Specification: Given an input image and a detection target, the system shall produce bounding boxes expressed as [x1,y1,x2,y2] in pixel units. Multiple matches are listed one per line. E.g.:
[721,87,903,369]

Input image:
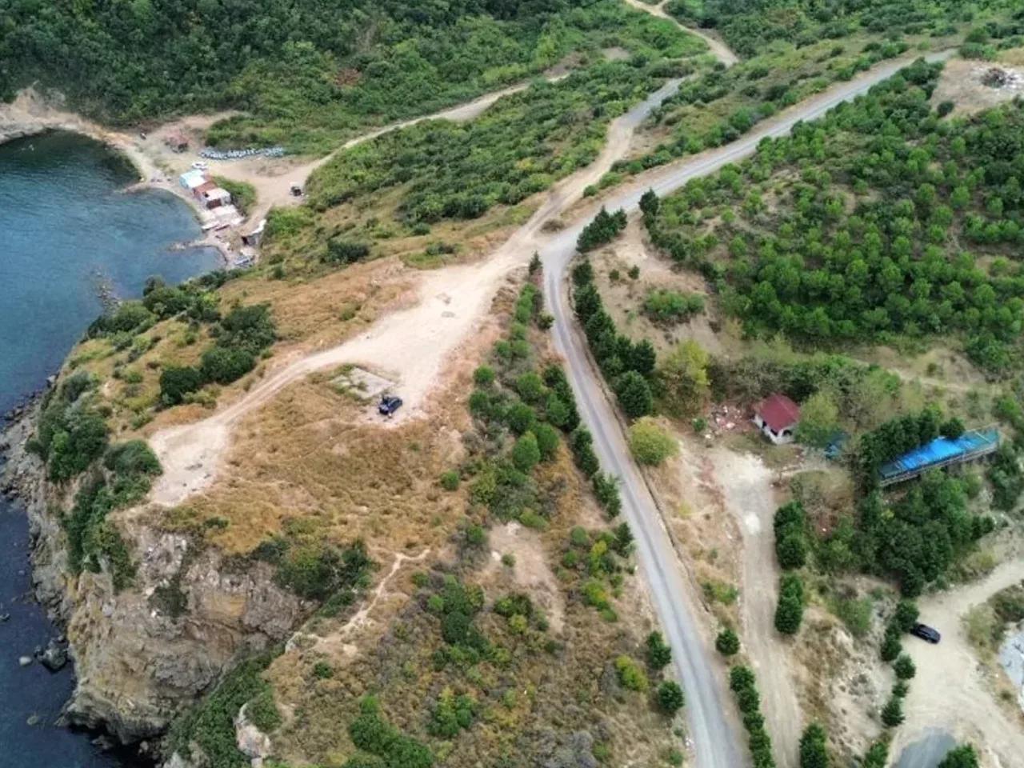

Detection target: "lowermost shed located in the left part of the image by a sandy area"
[242,223,264,246]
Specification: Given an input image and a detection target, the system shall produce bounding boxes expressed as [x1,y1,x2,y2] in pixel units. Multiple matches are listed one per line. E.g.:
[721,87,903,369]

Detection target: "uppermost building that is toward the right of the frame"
[750,386,804,442]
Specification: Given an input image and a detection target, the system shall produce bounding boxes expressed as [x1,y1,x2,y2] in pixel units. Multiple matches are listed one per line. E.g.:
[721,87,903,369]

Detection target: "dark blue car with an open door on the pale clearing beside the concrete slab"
[376,393,406,417]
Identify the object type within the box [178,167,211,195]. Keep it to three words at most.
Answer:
shed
